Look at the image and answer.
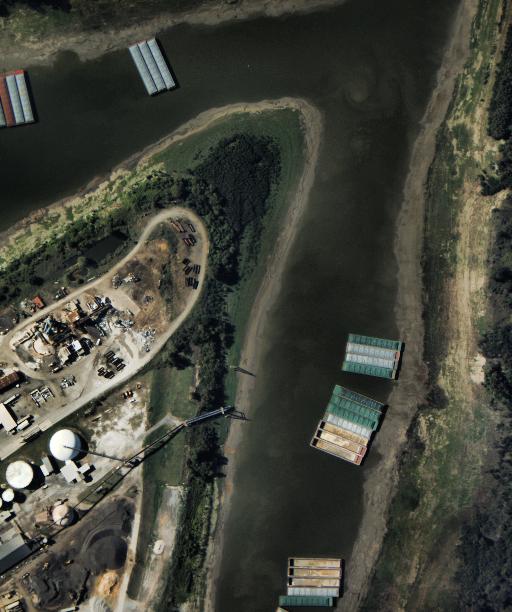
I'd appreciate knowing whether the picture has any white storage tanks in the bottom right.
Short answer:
No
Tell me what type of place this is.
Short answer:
port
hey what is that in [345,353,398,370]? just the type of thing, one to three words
ship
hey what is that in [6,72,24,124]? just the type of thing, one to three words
ship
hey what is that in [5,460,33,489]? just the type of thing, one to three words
storage tank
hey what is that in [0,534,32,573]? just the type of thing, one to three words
shed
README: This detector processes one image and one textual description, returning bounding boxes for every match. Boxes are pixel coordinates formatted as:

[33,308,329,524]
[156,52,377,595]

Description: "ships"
[287,568,340,577]
[129,43,157,95]
[333,385,385,414]
[280,596,333,605]
[287,577,339,586]
[320,413,373,441]
[6,72,24,124]
[316,422,368,449]
[324,404,376,432]
[345,353,398,370]
[138,40,165,91]
[342,362,396,380]
[287,587,339,596]
[15,70,34,123]
[308,440,360,468]
[0,96,7,127]
[0,73,16,126]
[312,431,364,459]
[147,37,175,89]
[329,394,381,423]
[288,559,341,568]
[346,343,400,360]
